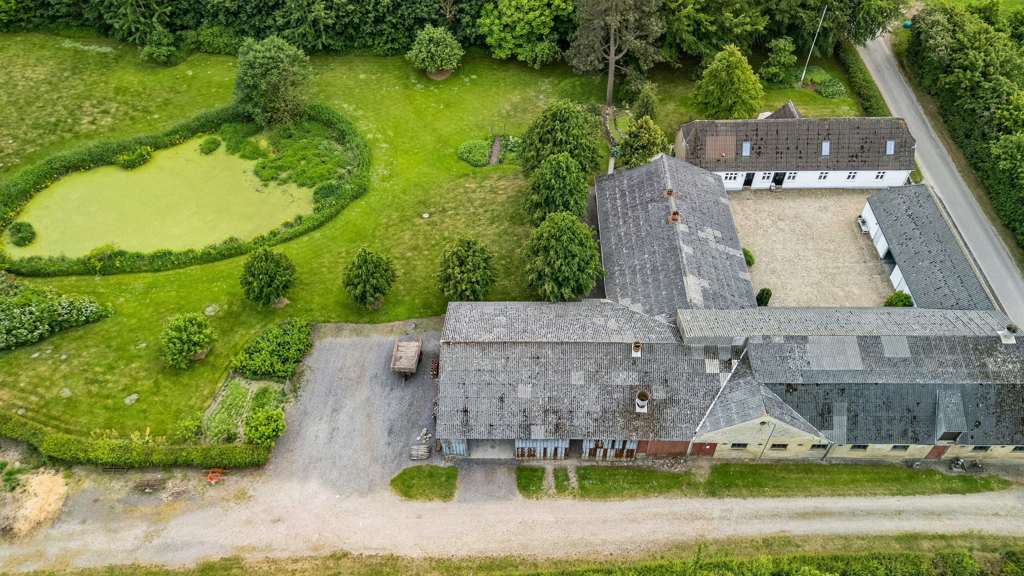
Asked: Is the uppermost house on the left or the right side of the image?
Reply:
right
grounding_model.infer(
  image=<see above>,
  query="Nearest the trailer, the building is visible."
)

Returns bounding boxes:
[436,299,735,460]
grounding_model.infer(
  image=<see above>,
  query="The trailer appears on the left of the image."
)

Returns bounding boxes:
[391,337,423,386]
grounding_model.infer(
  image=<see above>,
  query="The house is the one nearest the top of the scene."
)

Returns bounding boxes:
[675,97,918,194]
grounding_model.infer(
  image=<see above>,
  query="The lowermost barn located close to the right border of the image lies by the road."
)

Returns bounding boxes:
[677,305,1024,460]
